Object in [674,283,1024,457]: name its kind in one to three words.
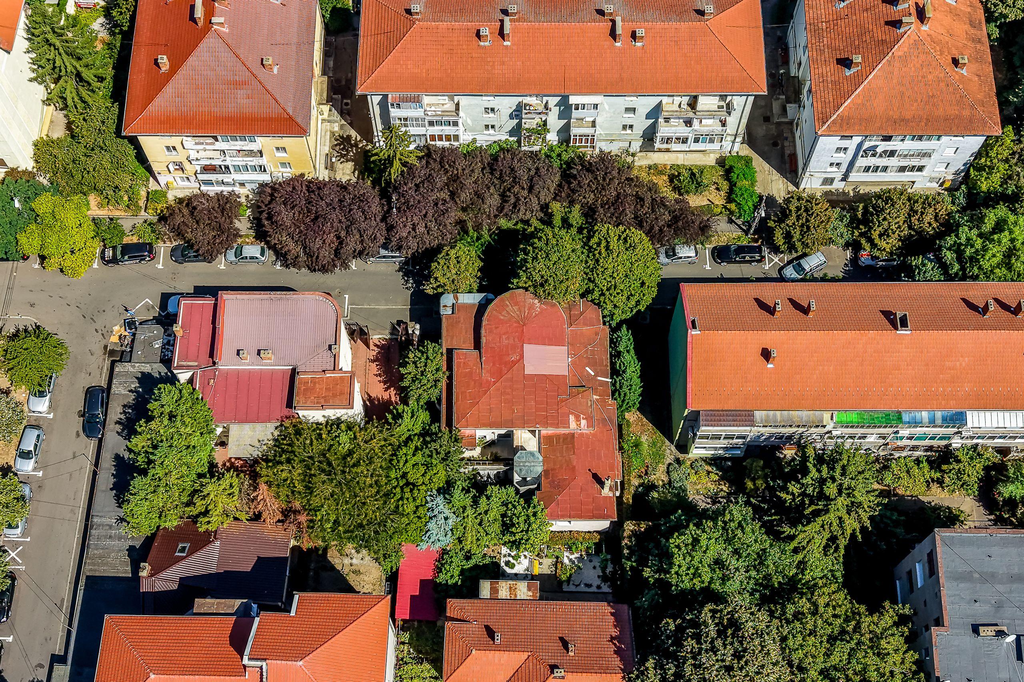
building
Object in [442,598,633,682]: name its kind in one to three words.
house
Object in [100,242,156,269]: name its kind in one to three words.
car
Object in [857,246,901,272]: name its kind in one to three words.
car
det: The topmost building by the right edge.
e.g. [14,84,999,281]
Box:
[772,0,1002,181]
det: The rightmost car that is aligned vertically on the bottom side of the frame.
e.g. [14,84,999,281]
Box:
[80,385,109,440]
